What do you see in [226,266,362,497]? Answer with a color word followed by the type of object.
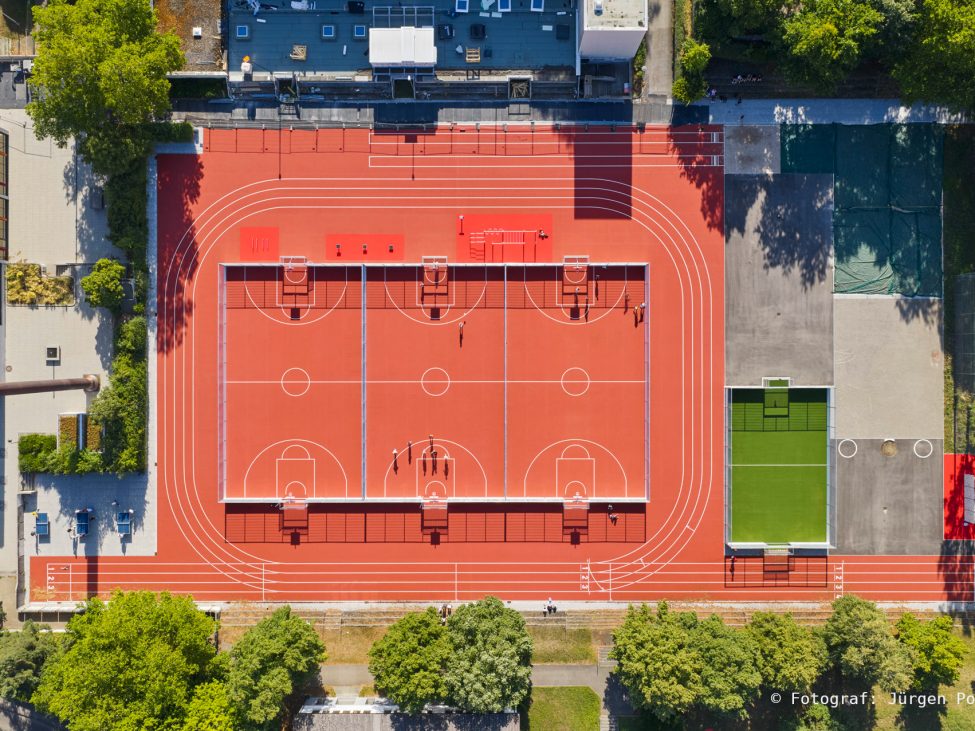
red basketball court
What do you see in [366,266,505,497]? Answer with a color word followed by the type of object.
red basketball court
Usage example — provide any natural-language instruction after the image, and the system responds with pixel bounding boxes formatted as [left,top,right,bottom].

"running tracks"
[30,124,975,602]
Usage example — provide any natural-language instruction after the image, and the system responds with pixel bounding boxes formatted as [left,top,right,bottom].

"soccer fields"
[727,379,827,551]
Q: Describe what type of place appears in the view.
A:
sports ground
